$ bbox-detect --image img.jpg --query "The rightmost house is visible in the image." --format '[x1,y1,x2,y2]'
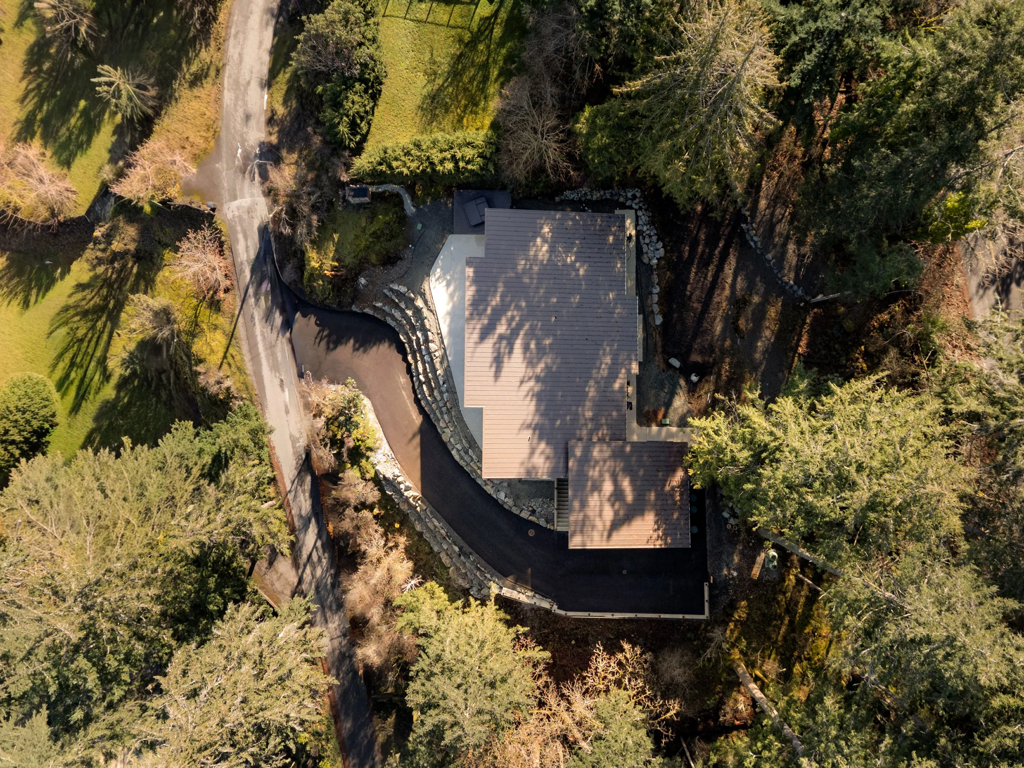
[464,208,691,548]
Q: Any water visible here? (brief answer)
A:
No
